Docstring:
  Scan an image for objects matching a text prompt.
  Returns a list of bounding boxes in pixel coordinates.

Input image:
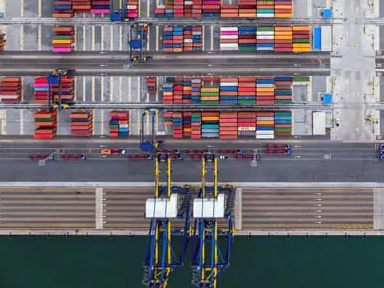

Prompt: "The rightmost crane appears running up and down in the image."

[185,155,242,288]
